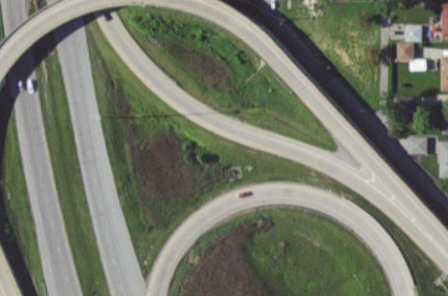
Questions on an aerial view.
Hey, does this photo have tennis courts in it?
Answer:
No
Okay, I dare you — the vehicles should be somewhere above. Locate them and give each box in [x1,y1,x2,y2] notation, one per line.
[441,50,448,56]
[26,78,34,94]
[17,80,24,92]
[236,191,252,199]
[392,30,404,36]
